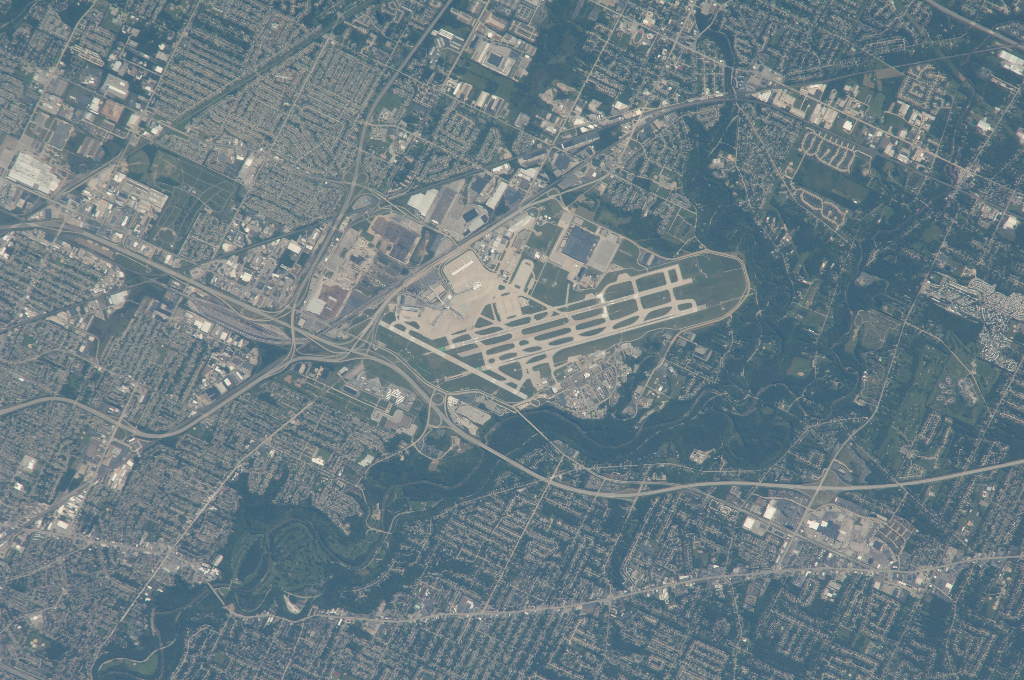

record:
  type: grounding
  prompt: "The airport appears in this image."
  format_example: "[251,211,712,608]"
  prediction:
[377,227,754,395]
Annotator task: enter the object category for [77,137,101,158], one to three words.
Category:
building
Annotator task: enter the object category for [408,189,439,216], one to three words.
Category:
building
